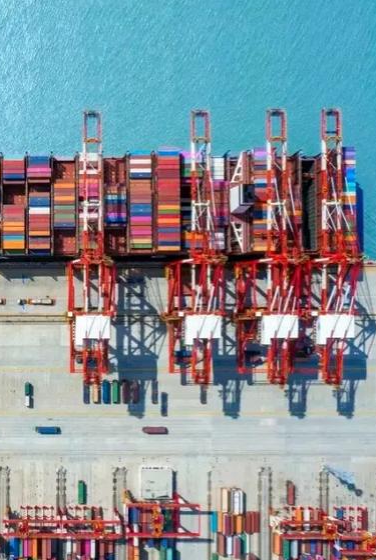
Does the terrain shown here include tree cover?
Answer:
No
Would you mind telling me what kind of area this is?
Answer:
port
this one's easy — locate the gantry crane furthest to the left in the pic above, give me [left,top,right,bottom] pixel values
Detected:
[4,501,63,539]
